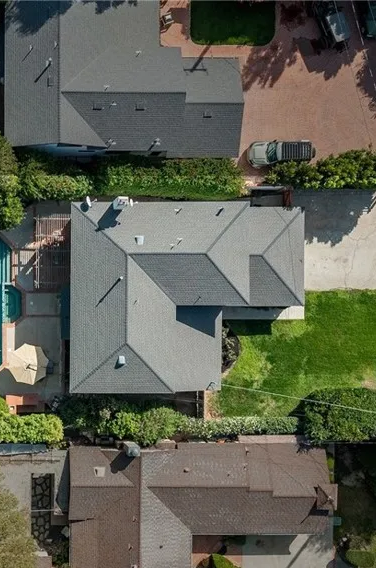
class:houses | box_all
[61,196,305,395]
[4,0,243,159]
[9,438,337,568]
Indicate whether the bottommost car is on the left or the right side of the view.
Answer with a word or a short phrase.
right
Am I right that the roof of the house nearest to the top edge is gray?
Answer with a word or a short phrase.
Yes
